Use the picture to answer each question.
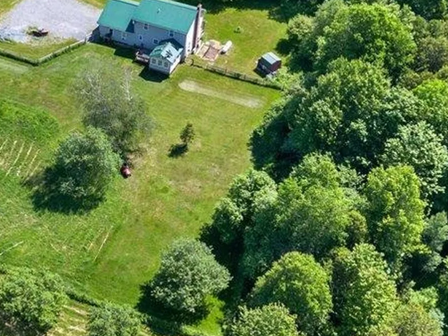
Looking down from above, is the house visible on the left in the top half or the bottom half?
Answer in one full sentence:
Seen from above, the house visible on the left lies in the top half of the view.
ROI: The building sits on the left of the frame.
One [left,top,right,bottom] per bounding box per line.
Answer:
[97,0,205,75]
